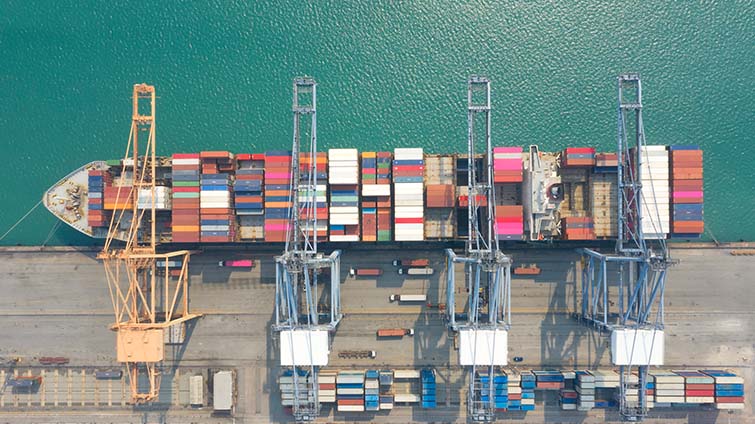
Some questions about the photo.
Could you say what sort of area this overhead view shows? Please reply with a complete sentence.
This image shows a port.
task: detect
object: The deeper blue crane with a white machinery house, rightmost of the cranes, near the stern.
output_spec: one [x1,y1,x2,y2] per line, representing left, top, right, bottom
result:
[565,74,681,418]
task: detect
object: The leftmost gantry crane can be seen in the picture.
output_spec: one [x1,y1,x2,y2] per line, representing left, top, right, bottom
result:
[96,83,212,403]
